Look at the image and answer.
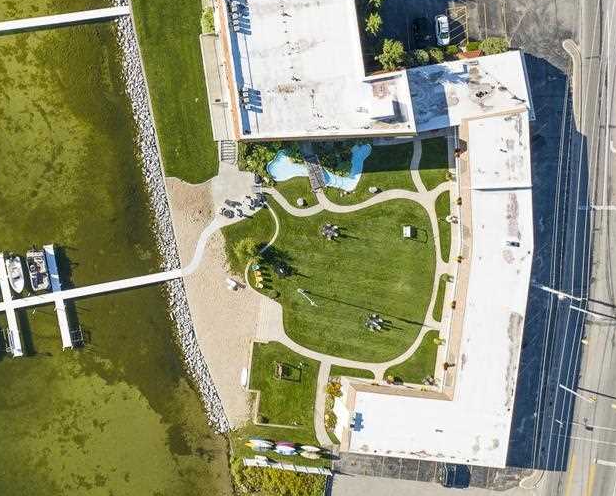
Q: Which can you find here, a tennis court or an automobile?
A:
automobile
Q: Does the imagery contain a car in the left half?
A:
No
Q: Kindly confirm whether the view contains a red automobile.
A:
No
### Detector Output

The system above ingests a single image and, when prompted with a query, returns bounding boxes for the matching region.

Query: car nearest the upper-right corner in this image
[434,14,451,46]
